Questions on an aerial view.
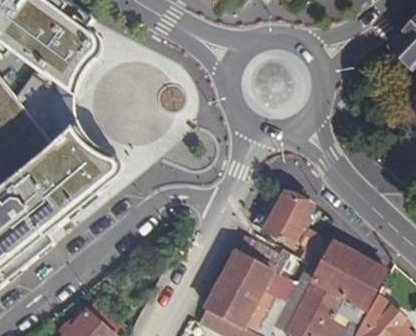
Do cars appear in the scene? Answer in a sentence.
Yes, a car is visible in the scene.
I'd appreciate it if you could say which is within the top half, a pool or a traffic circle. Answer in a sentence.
What appears within the top half is a traffic circle.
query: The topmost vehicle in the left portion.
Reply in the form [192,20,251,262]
[112,199,130,215]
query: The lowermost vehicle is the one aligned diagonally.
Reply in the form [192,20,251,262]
[19,315,36,330]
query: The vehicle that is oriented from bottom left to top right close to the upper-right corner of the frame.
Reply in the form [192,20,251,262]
[360,8,376,22]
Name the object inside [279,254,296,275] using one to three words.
camper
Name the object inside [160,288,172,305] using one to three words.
vehicle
